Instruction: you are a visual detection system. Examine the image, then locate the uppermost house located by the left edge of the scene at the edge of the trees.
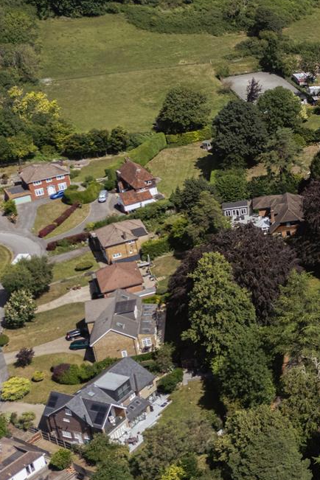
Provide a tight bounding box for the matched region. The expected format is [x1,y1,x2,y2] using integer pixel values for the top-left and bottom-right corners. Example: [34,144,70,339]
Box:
[11,156,75,207]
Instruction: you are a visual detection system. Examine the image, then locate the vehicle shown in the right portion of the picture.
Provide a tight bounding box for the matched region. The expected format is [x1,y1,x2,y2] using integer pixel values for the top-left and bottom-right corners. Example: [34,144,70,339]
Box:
[305,83,320,96]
